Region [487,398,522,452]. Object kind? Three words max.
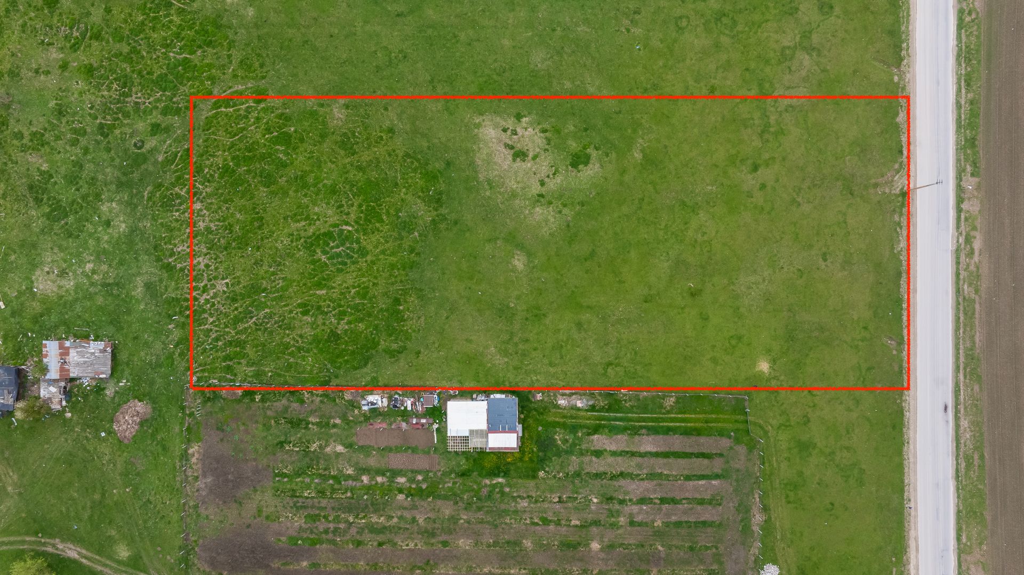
house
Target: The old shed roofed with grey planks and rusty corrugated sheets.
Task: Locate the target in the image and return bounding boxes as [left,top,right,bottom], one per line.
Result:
[41,341,114,379]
